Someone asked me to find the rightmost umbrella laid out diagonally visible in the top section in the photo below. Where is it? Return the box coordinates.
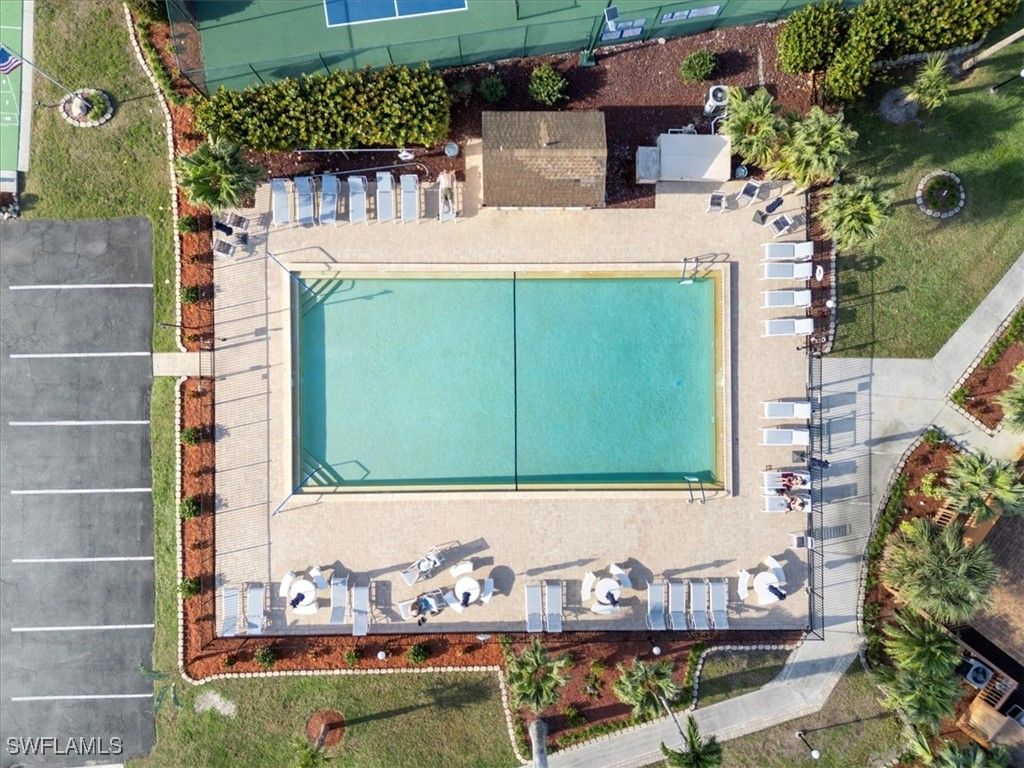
[752,199,784,226]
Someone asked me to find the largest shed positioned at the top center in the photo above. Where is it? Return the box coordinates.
[481,111,610,210]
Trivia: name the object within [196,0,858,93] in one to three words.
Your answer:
sports court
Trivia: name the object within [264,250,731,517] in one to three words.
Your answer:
swimming pool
